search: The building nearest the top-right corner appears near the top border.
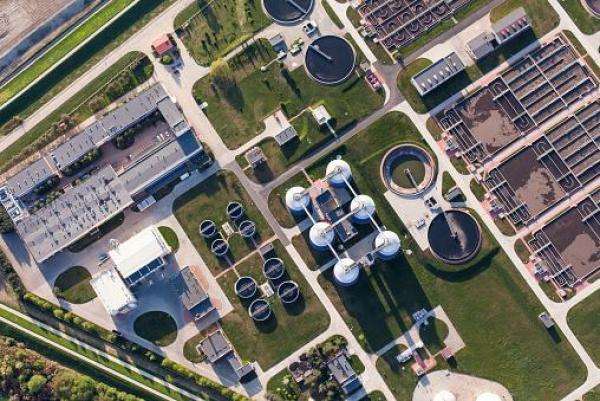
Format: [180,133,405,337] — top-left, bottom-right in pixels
[489,8,532,46]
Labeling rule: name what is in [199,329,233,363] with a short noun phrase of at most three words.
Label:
house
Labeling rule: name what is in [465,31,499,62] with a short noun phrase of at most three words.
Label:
building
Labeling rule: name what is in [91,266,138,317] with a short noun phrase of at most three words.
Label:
shed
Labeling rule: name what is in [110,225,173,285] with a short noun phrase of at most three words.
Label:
building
